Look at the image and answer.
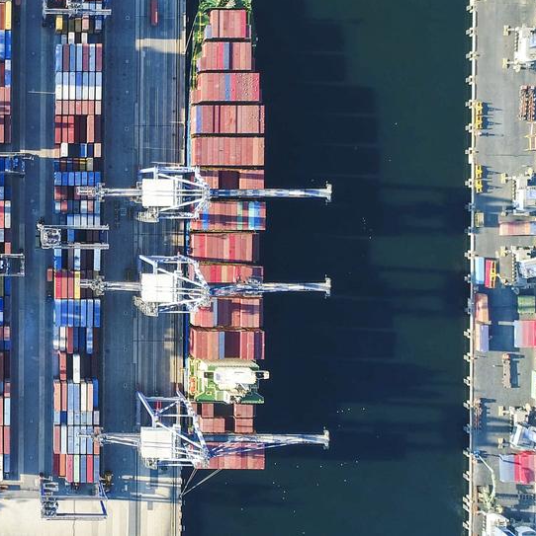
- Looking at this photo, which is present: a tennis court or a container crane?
container crane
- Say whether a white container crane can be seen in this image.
Yes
